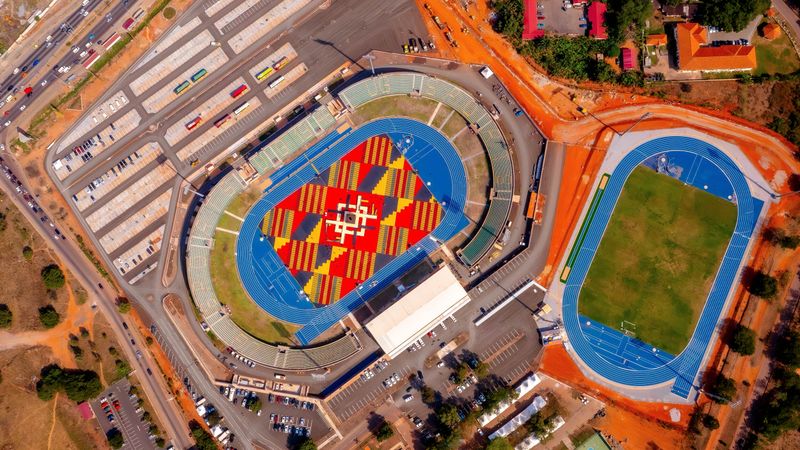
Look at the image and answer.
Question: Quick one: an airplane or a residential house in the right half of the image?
residential house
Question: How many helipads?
0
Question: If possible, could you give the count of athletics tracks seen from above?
2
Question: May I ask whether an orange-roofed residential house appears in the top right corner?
Yes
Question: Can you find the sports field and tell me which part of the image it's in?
right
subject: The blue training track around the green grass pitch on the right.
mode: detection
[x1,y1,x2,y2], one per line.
[562,136,765,400]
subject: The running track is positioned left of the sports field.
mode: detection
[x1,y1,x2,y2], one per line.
[236,116,470,348]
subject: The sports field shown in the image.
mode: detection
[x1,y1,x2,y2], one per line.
[579,164,738,356]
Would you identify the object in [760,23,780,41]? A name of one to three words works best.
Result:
gazebo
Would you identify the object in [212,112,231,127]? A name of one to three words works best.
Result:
vehicle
